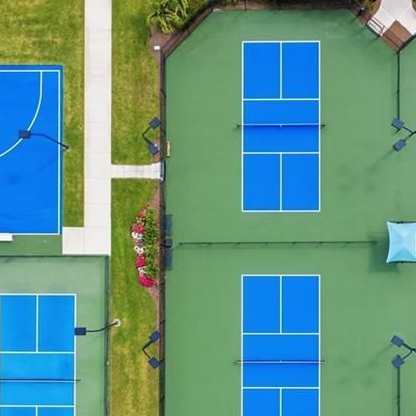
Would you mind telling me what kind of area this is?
sports ground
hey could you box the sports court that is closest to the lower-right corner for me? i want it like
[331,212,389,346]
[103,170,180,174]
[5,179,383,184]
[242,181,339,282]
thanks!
[242,275,320,416]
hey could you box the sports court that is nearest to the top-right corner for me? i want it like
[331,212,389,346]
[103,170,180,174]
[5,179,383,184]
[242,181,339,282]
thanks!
[242,41,320,212]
